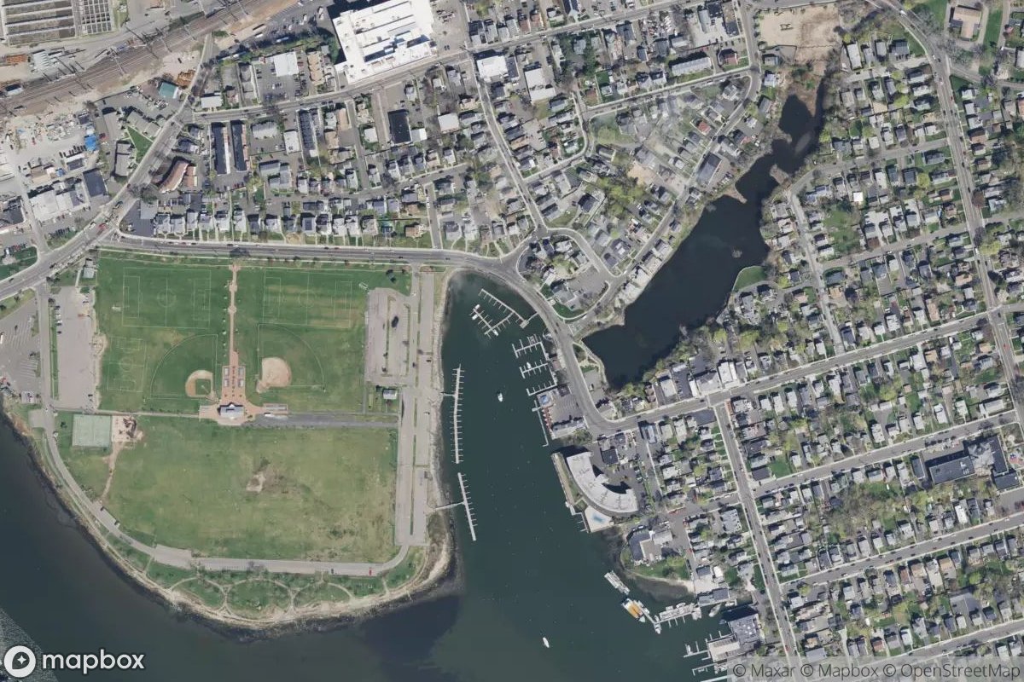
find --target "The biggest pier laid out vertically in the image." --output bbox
[450,365,463,463]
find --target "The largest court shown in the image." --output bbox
[72,414,111,447]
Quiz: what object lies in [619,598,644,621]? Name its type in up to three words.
ship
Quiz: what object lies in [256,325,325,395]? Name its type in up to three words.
baseball field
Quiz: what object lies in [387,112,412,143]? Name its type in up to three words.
building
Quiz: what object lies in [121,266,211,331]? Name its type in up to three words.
soccer field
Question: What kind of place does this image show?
residential area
